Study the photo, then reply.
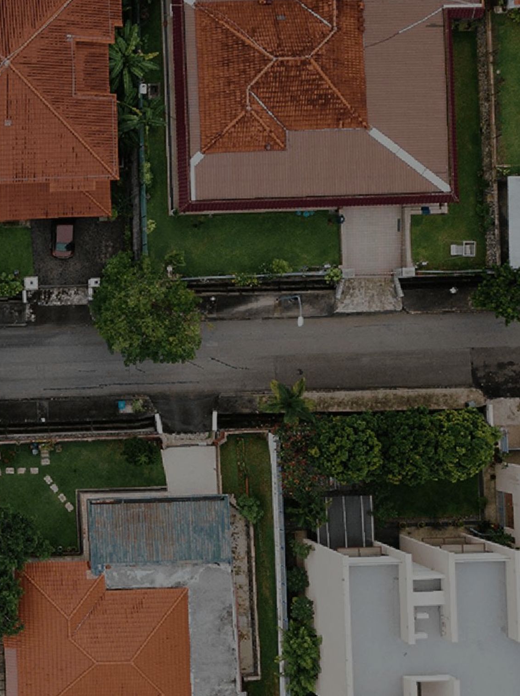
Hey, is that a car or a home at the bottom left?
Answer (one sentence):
Looking at the bottom left, you will find a home.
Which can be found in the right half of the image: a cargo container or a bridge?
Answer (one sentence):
What appears in the right half of the image is a bridge.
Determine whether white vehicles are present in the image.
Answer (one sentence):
No, this view has no white vehicle in it.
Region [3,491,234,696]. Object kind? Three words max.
house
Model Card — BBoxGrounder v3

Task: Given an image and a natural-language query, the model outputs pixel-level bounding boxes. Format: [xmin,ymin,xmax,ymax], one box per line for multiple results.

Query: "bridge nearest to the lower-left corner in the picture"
[162,433,213,447]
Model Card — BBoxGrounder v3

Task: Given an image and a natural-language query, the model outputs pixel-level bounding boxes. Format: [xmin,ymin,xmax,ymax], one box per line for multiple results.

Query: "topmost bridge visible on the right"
[335,277,402,313]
